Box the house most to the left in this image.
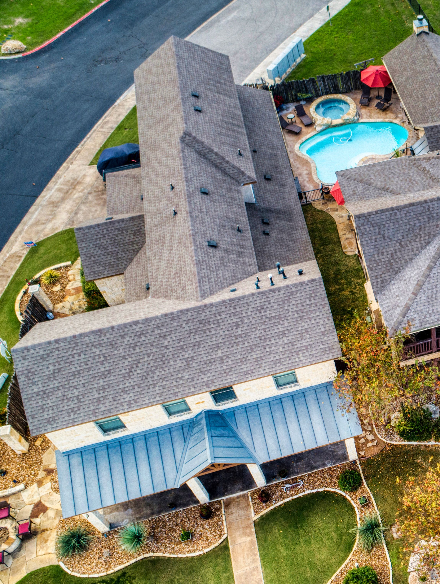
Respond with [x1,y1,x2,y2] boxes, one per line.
[9,36,362,536]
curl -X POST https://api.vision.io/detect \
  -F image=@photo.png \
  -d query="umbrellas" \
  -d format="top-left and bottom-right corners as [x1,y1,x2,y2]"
[360,66,390,100]
[325,178,345,206]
